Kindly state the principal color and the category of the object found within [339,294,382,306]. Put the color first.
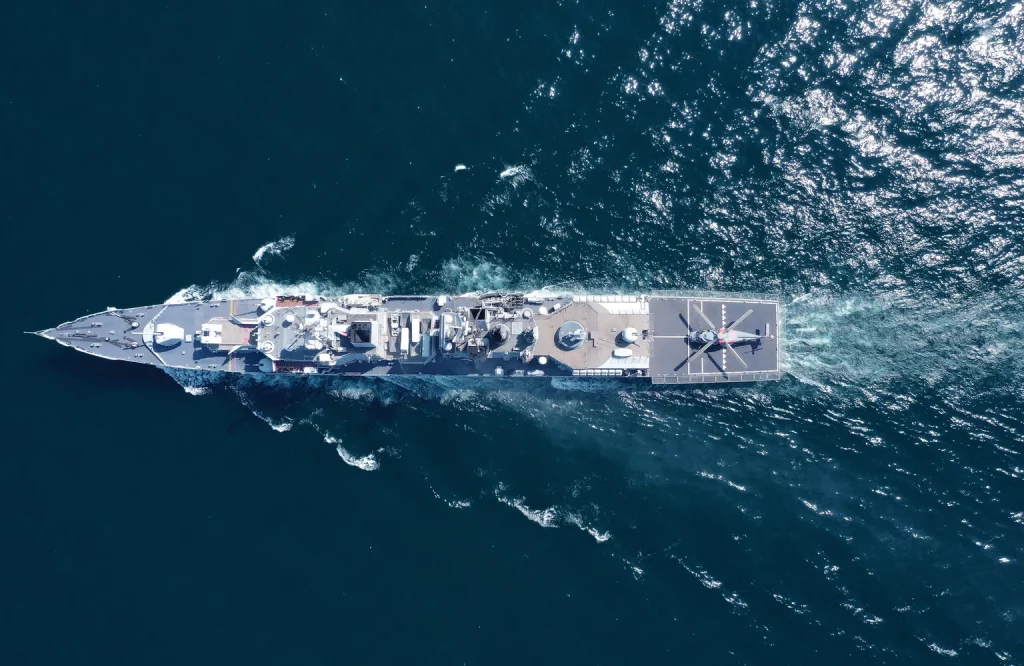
white boat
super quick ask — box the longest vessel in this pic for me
[24,290,782,384]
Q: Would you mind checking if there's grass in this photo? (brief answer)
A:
No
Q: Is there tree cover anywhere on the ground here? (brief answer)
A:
No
